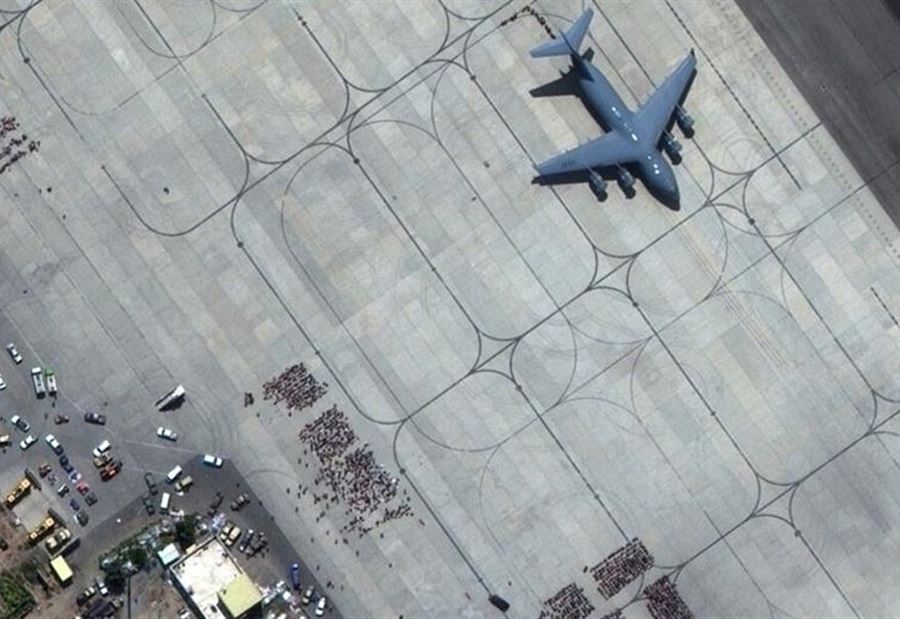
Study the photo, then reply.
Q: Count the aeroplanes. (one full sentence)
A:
The photo contains exactly 1 aeroplane.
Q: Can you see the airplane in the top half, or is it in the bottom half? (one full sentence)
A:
It is in the top half that the airplane appears.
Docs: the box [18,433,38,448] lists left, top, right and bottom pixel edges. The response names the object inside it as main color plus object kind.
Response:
white car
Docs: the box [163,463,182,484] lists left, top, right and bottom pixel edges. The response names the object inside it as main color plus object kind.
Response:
white vehicle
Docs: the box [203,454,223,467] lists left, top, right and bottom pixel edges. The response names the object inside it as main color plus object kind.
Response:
white vehicle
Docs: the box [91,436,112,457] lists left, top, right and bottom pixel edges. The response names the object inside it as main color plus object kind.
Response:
white truck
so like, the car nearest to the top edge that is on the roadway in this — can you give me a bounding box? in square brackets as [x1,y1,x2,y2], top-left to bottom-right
[7,343,22,362]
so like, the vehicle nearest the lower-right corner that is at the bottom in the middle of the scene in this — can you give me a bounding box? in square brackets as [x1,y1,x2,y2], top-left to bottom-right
[489,595,510,613]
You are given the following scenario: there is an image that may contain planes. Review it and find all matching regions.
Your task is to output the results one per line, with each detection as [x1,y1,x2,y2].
[530,9,695,207]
